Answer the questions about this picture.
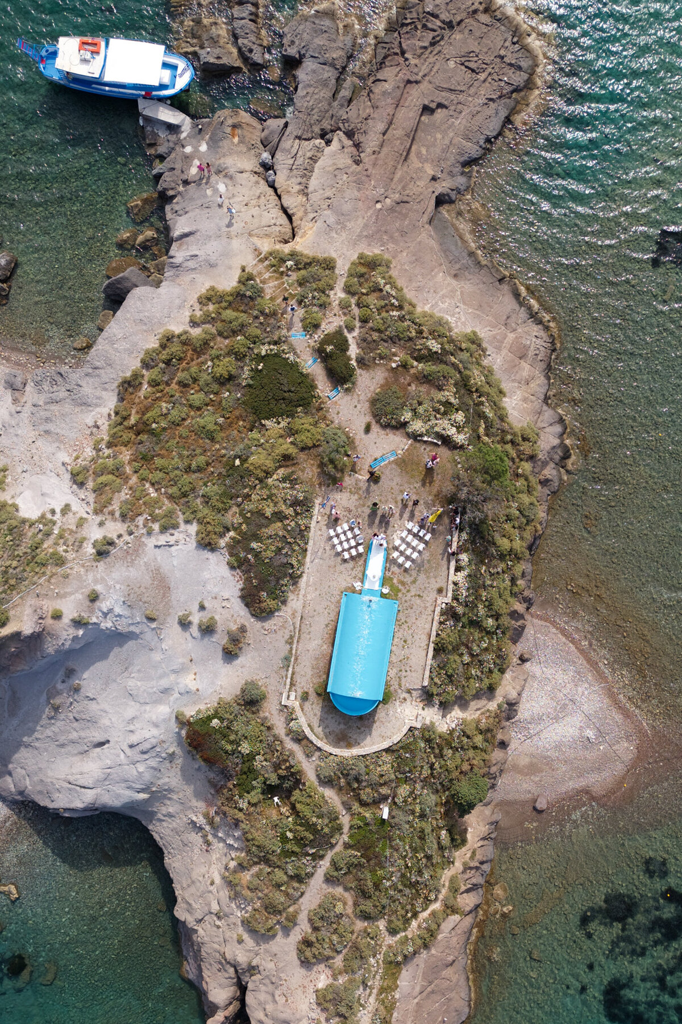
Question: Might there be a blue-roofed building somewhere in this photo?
Yes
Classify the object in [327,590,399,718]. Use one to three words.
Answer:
building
